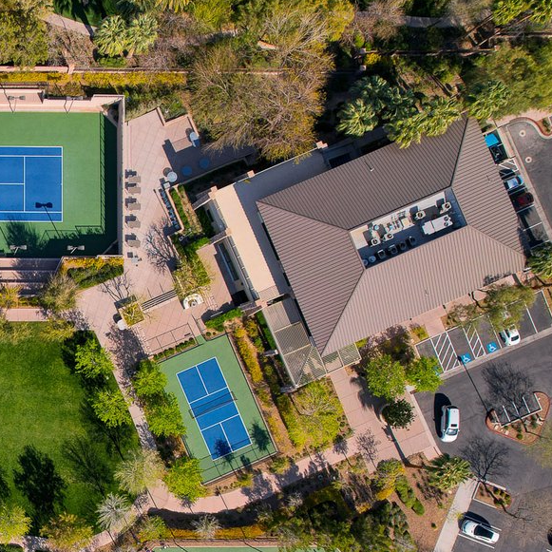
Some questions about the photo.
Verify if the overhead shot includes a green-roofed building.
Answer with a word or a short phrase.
No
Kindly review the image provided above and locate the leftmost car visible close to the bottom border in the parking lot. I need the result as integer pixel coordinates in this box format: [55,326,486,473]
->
[465,520,499,543]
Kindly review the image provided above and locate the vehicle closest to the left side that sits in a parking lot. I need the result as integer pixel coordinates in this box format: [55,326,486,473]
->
[443,407,462,438]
